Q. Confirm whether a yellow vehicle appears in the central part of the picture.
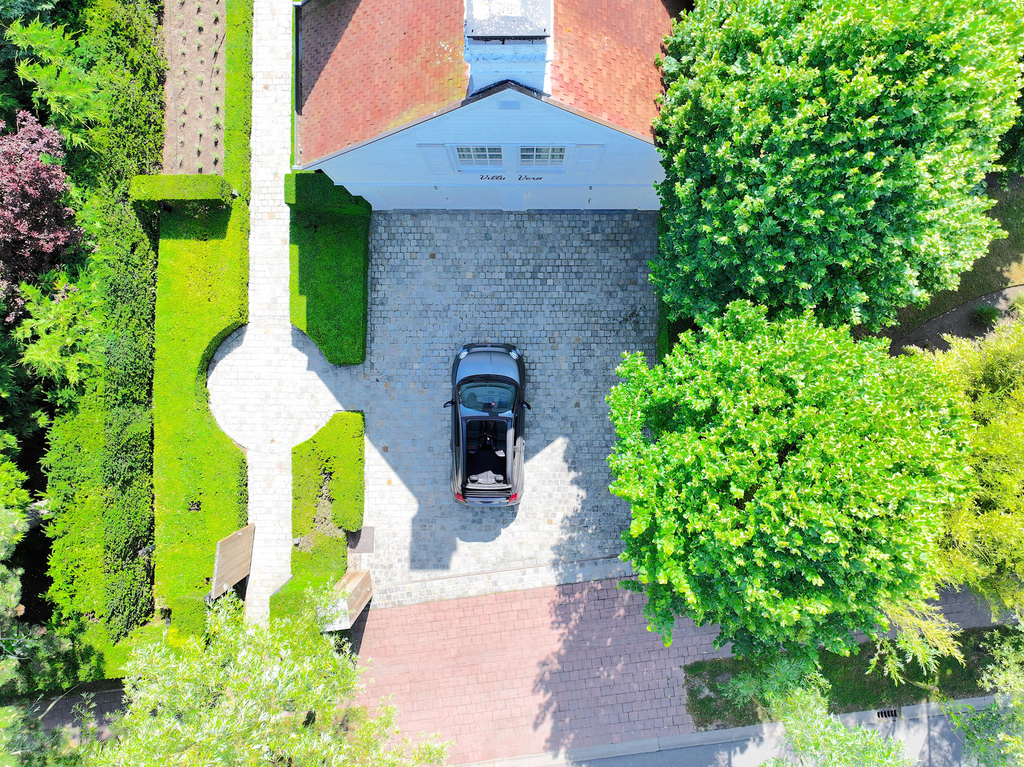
No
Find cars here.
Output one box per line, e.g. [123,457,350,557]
[442,343,532,508]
